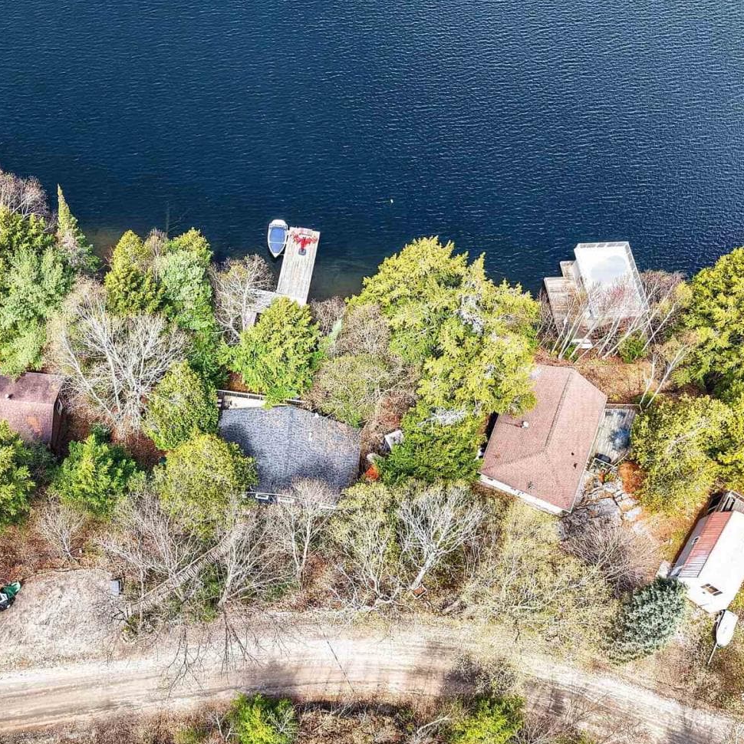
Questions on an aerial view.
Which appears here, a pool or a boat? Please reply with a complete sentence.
There is a boat in the scene.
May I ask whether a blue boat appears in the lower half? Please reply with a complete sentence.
No, I can find no blue boat in the lower half.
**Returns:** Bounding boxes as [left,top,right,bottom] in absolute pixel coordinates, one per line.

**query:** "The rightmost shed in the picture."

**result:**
[669,510,744,615]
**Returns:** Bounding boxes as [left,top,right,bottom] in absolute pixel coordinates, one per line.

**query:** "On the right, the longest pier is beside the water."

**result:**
[543,274,586,332]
